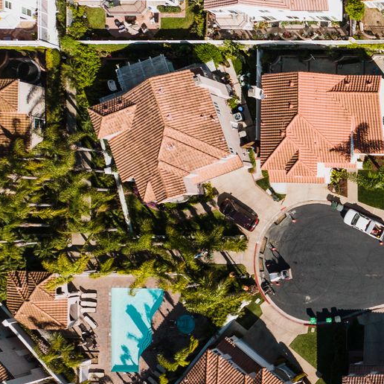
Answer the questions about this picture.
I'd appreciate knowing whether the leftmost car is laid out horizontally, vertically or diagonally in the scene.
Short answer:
diagonally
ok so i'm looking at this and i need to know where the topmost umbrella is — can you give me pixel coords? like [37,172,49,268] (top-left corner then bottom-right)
[122,17,145,38]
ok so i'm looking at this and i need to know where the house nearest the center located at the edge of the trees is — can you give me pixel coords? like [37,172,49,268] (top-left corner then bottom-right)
[87,67,250,213]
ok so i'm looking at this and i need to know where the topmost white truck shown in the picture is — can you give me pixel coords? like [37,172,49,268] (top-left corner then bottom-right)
[341,209,384,241]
